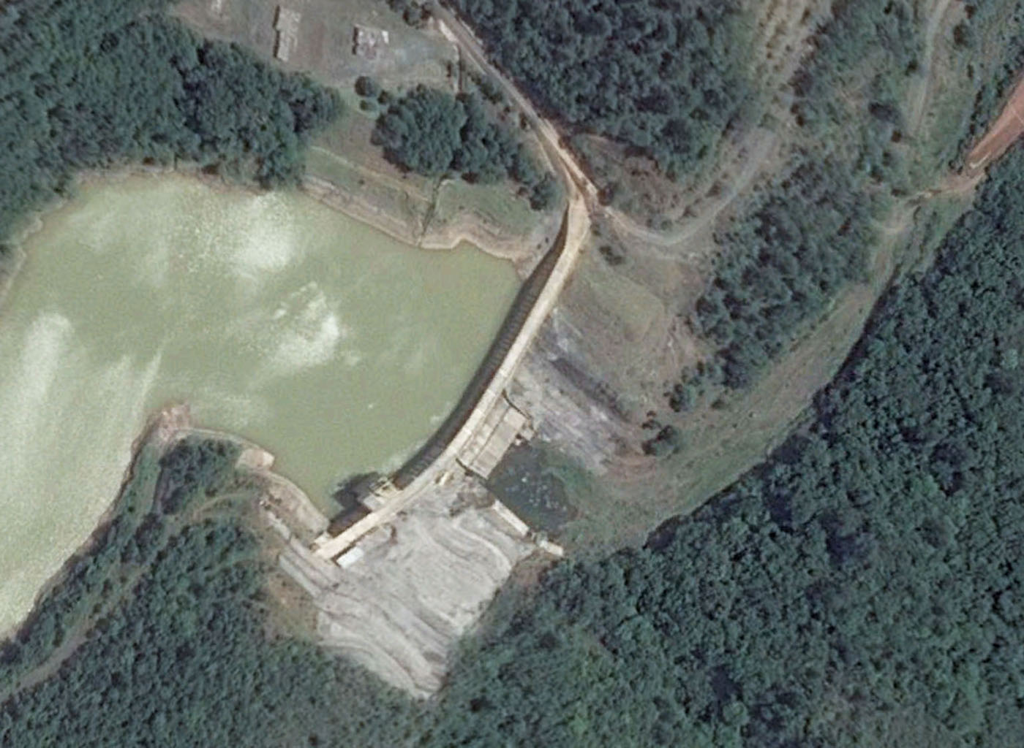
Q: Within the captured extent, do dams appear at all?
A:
Yes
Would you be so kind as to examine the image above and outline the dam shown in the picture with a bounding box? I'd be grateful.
[317,198,588,559]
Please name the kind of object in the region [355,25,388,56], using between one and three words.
house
